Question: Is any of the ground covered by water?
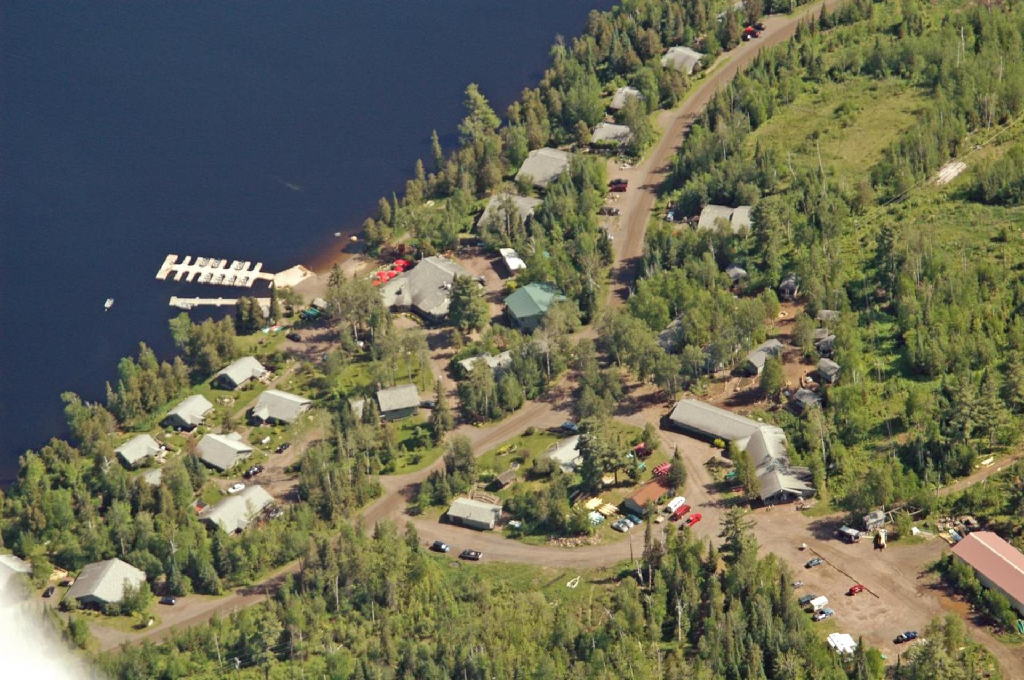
Yes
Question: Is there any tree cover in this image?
Yes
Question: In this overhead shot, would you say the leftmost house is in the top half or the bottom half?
bottom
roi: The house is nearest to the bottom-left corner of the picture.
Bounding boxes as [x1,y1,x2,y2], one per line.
[0,556,37,600]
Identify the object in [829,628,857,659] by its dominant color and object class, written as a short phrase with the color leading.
white vehicle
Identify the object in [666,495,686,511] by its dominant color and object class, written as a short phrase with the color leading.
white vehicle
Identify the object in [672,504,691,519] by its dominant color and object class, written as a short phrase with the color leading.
red vehicle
